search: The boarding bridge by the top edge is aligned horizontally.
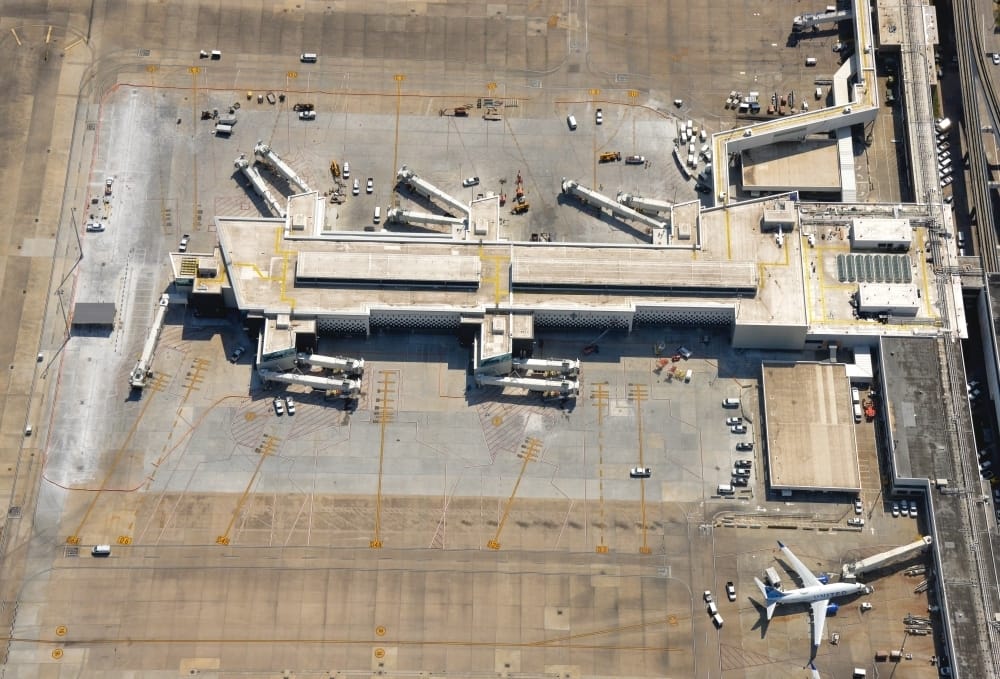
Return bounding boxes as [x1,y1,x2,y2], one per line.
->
[784,14,849,34]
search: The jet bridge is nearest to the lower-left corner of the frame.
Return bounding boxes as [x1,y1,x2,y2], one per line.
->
[130,295,188,397]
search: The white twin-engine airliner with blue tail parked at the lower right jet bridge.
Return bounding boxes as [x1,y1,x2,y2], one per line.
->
[758,542,865,647]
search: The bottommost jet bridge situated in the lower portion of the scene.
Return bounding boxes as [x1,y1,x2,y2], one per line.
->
[842,535,934,587]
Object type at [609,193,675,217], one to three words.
jet bridge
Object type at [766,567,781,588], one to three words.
vehicle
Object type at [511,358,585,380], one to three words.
jet bridge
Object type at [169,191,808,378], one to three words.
building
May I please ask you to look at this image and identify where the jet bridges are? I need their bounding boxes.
[258,369,367,401]
[842,535,934,587]
[229,156,287,220]
[297,353,370,380]
[784,14,849,34]
[511,358,585,380]
[609,193,675,217]
[379,208,470,232]
[391,169,470,220]
[130,295,188,397]
[553,182,668,230]
[474,372,585,401]
[249,143,313,194]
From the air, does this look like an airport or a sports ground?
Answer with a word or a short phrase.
airport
